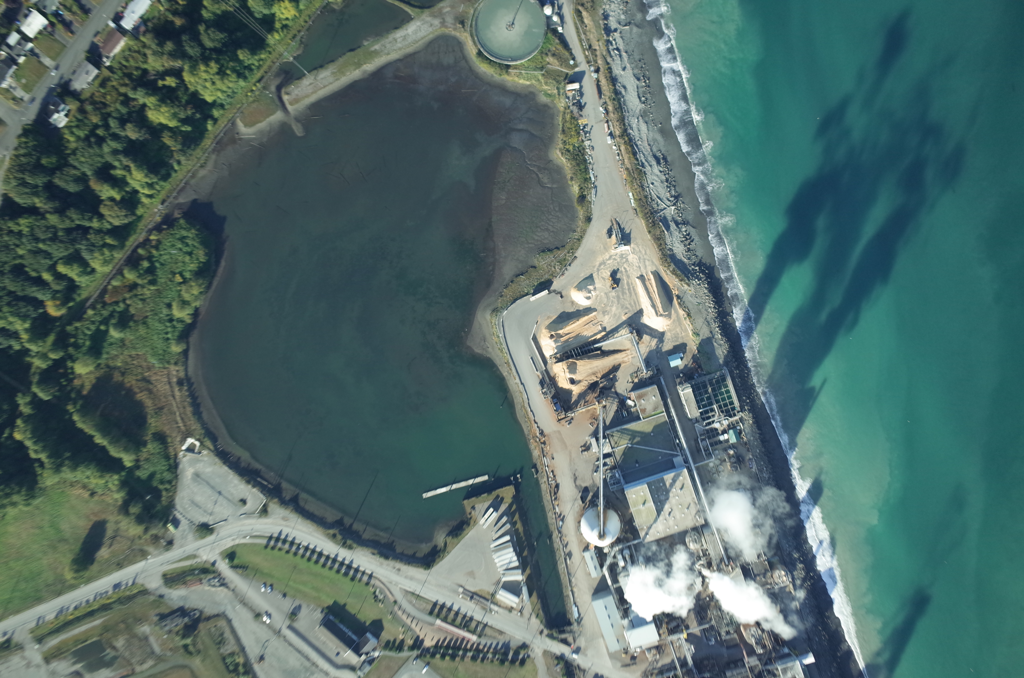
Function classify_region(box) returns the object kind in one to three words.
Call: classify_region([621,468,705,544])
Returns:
building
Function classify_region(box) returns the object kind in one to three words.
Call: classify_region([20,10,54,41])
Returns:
house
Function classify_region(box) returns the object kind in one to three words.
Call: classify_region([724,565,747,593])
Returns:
building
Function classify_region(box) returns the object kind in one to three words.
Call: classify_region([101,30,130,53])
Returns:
house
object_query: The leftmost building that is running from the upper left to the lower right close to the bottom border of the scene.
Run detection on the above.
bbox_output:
[323,614,362,654]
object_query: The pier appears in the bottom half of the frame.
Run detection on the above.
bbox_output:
[423,474,488,499]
